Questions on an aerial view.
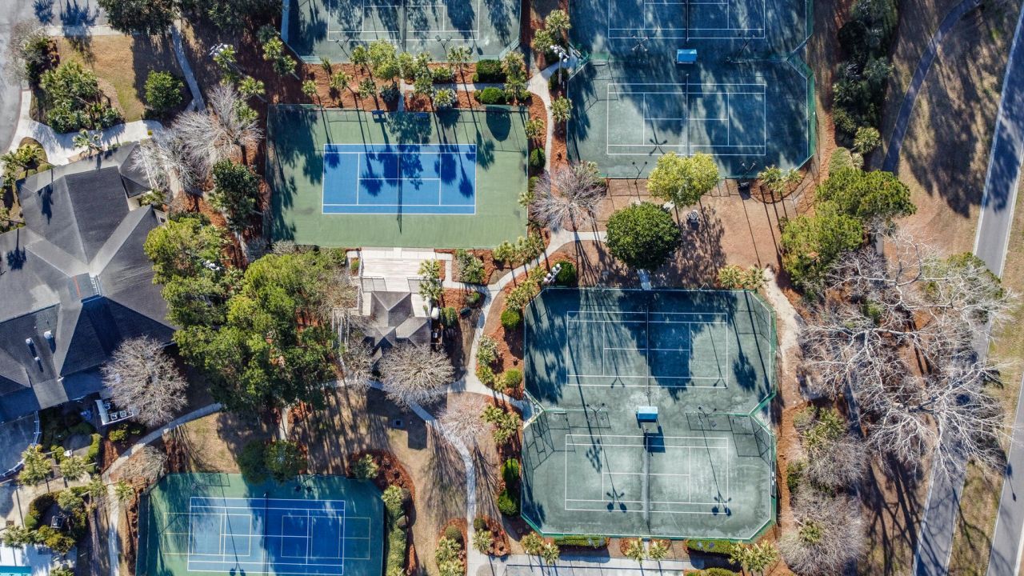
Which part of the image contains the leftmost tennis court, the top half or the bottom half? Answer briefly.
bottom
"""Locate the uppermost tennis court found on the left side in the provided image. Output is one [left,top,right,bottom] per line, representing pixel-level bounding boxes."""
[287,0,520,62]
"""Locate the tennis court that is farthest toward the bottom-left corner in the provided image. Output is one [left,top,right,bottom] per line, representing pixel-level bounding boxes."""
[147,474,382,576]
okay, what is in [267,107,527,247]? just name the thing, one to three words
tennis court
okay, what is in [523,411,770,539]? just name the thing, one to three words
tennis court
